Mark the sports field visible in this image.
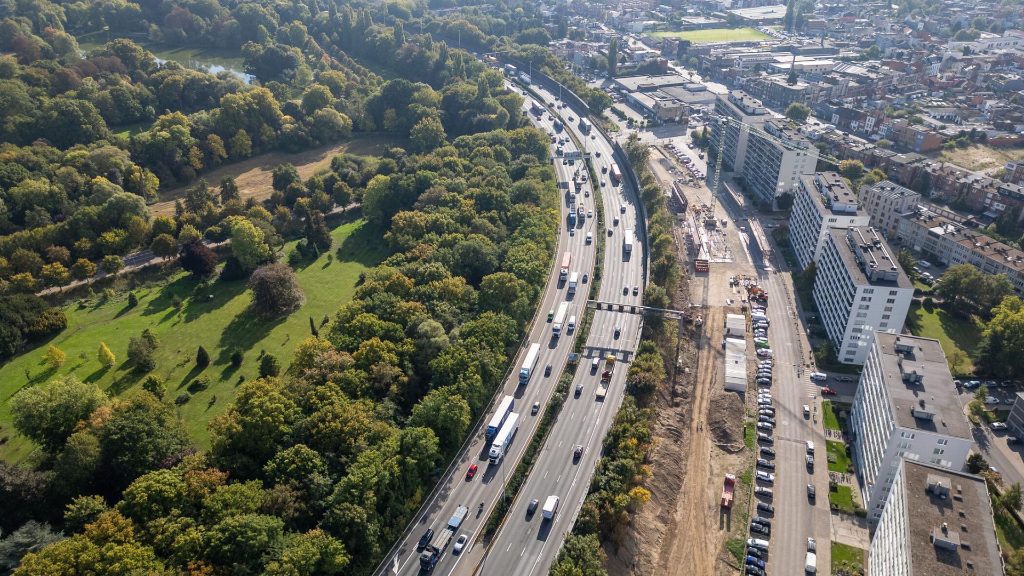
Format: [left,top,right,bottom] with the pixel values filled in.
[656,28,773,43]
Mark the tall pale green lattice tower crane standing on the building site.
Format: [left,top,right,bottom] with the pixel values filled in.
[703,104,843,224]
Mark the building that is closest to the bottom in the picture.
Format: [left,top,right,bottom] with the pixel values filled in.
[870,455,1007,576]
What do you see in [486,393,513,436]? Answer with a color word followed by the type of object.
white truck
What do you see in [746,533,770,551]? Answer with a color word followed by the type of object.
white vehicle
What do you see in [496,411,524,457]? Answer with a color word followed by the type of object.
white truck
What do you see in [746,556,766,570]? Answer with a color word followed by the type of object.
blue car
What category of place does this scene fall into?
residential area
